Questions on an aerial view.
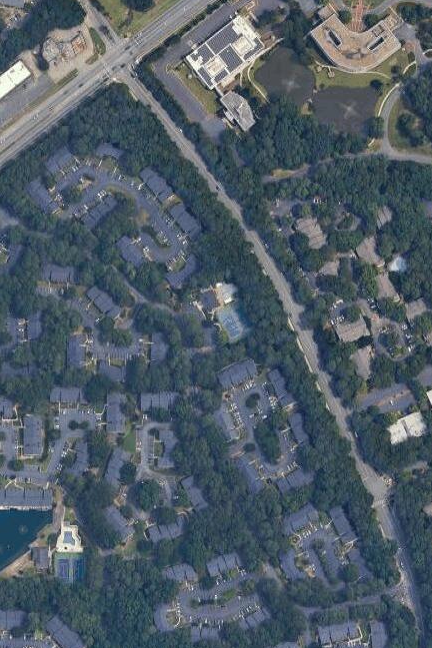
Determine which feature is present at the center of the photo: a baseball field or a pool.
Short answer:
pool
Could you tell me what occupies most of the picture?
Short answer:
trees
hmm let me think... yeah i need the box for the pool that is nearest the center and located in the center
[216,283,237,303]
